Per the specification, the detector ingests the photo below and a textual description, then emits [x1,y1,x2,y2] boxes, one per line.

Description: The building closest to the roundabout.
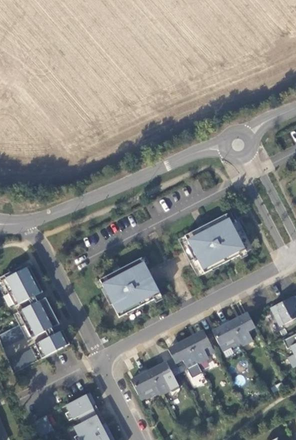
[180,214,252,276]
